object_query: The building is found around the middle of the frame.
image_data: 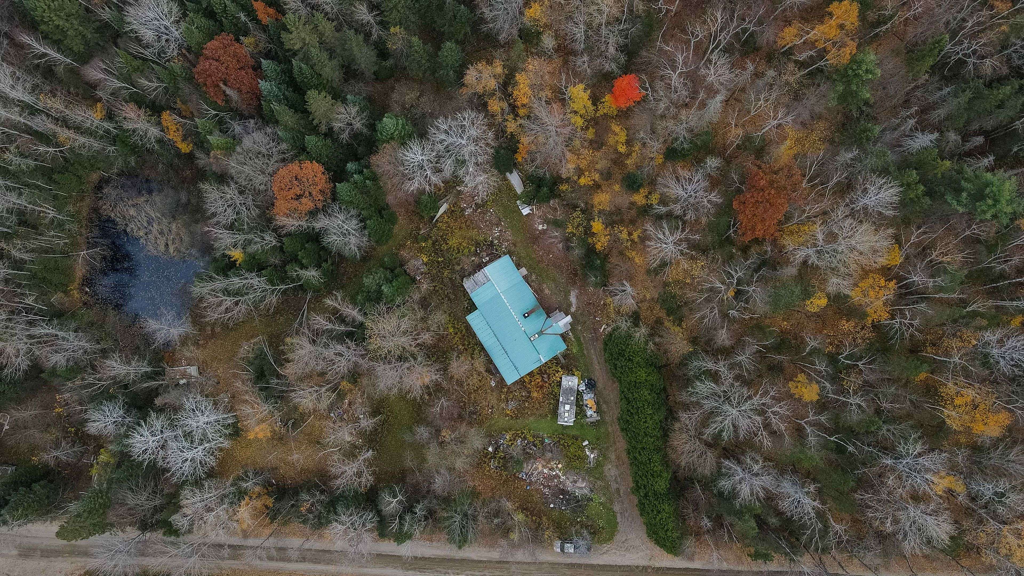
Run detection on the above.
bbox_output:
[465,255,572,385]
